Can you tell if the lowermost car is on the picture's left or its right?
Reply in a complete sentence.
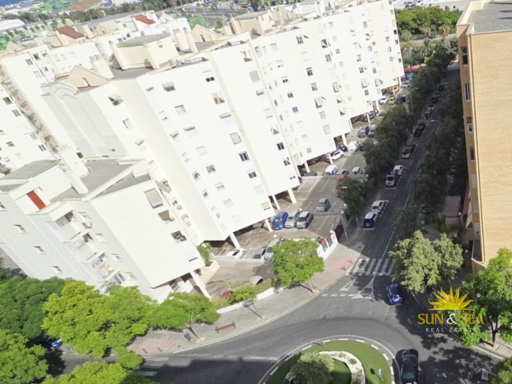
The lowermost car is on the right side of the image.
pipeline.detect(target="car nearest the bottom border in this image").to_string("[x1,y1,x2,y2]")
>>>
[396,353,422,384]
